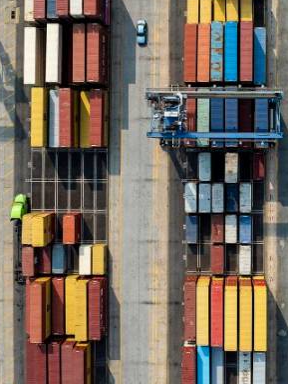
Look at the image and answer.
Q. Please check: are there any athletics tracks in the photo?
No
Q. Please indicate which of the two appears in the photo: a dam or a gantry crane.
gantry crane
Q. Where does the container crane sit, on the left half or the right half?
right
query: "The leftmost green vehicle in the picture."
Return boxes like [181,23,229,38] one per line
[9,193,27,281]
